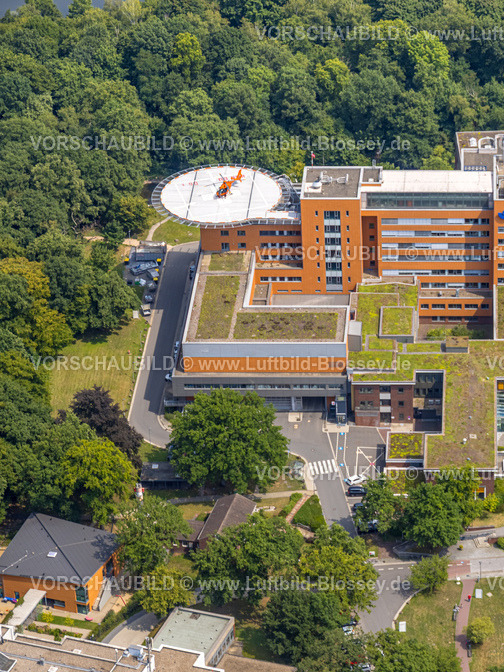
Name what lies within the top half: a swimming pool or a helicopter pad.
helicopter pad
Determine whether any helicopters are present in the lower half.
No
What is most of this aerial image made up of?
trees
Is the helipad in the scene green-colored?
No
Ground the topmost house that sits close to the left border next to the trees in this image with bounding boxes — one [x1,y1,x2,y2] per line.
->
[0,513,119,610]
